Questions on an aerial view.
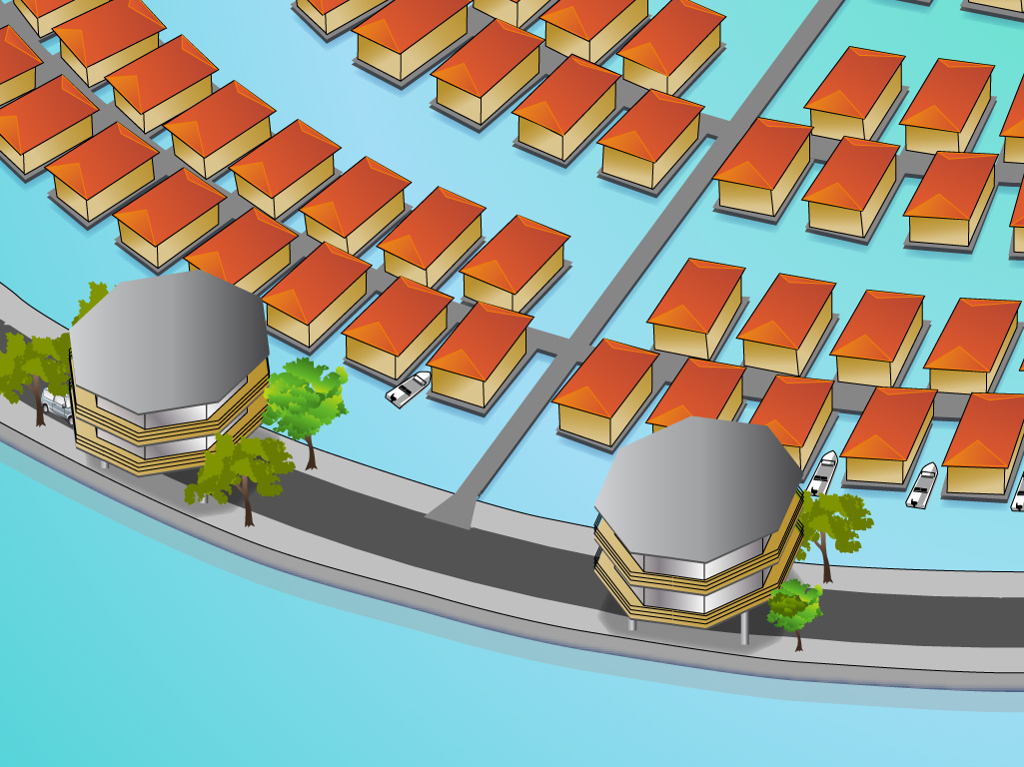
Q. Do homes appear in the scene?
Yes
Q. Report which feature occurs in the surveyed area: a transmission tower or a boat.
boat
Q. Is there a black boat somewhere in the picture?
No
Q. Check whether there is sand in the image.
No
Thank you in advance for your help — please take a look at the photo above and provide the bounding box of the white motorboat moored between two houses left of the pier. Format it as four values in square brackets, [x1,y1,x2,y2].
[386,372,432,410]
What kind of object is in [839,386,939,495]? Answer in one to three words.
house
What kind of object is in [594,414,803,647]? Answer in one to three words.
building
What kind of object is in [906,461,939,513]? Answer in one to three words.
boat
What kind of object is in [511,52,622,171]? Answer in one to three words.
house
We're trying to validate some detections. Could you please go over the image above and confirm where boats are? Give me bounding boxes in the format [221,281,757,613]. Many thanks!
[806,450,840,501]
[386,372,432,410]
[1010,475,1024,517]
[906,461,939,513]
